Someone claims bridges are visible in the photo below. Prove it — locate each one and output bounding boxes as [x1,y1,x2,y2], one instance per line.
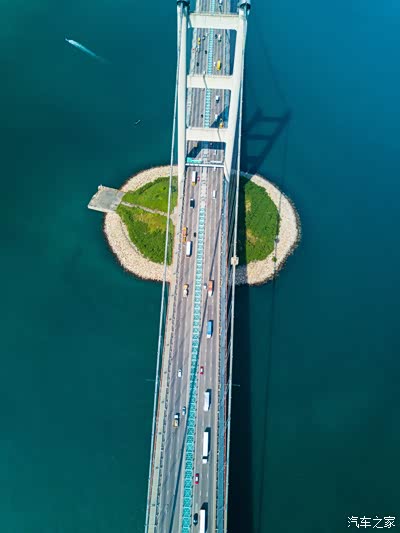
[145,0,251,533]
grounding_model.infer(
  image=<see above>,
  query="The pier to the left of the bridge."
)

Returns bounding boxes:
[89,183,124,212]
